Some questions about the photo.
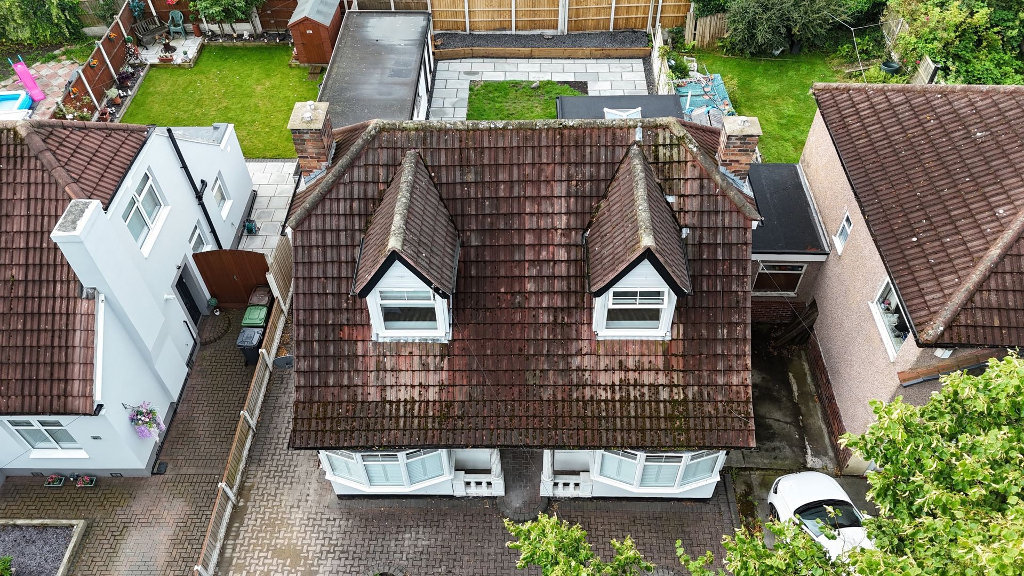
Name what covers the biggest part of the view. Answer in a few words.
buildings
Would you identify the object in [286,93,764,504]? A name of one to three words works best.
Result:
house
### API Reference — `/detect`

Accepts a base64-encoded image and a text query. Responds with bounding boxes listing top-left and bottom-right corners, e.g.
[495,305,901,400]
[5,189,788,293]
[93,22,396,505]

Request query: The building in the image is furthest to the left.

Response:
[0,115,254,475]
